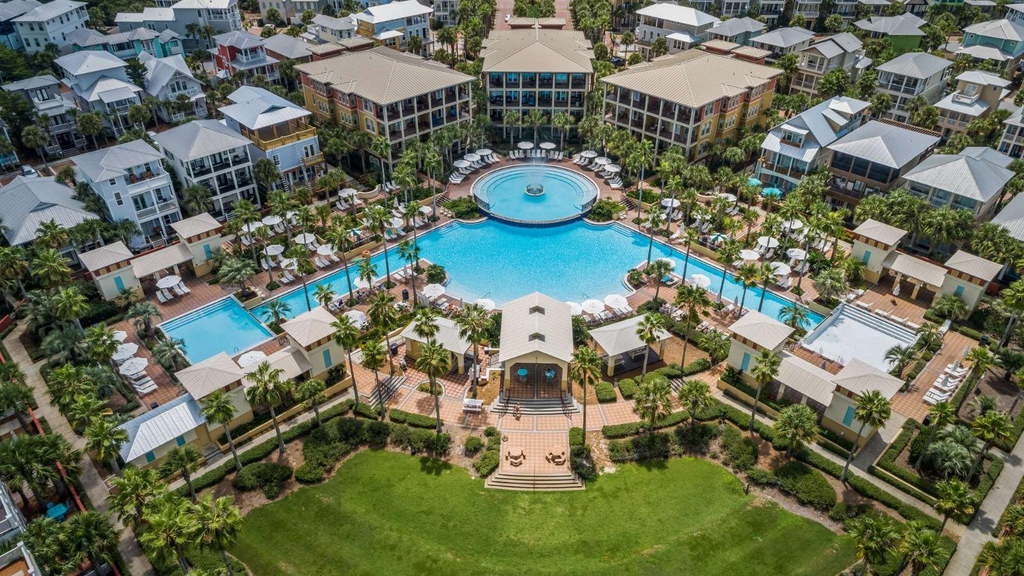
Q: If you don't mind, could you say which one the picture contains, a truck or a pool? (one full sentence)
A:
Of the two, only a pool appears.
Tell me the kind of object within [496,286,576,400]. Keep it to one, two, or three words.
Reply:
building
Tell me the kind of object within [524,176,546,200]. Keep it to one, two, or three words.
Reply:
fountain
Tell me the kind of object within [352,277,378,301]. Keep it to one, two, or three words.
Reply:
umbrella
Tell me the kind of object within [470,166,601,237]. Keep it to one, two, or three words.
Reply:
swimming pool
